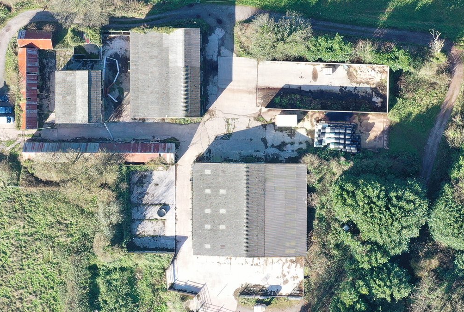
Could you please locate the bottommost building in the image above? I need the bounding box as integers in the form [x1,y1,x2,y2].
[193,163,307,258]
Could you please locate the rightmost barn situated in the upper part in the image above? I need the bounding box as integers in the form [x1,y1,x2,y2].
[130,28,202,117]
